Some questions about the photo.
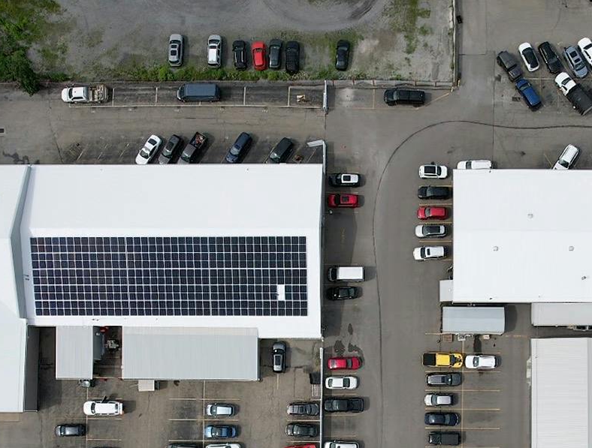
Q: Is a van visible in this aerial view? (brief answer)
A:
Yes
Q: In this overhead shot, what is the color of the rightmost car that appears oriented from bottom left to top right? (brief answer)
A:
white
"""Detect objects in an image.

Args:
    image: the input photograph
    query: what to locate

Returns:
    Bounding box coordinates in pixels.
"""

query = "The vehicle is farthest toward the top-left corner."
[64,84,109,102]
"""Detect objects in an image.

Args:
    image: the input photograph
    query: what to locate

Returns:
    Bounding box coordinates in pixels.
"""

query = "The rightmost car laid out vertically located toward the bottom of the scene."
[272,341,286,372]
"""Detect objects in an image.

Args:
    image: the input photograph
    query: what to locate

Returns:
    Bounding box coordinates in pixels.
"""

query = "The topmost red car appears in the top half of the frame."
[252,43,266,71]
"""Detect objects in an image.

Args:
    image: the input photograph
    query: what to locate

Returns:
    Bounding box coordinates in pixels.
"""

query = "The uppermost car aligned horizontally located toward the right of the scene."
[384,88,423,106]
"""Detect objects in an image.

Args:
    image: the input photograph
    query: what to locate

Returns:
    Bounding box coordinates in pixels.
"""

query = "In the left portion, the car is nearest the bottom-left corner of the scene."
[56,423,87,437]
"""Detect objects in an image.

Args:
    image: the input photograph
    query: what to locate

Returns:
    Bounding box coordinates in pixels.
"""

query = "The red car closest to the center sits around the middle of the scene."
[327,193,359,208]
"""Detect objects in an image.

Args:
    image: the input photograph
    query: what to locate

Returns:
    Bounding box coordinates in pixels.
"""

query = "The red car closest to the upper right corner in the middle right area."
[417,206,447,221]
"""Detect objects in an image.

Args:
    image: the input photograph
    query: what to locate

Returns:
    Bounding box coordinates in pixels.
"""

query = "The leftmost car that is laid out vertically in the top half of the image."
[168,36,183,68]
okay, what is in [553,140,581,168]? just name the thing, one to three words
car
